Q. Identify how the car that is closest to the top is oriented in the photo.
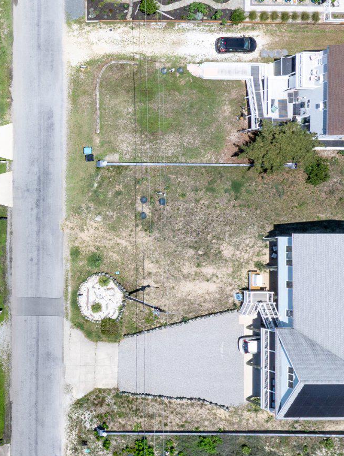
horizontally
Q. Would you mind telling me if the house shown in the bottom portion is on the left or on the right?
right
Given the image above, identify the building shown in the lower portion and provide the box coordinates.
[230,233,344,419]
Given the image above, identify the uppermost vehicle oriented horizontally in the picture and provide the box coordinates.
[215,35,255,54]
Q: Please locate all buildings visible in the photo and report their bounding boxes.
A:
[230,233,344,419]
[261,43,344,158]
